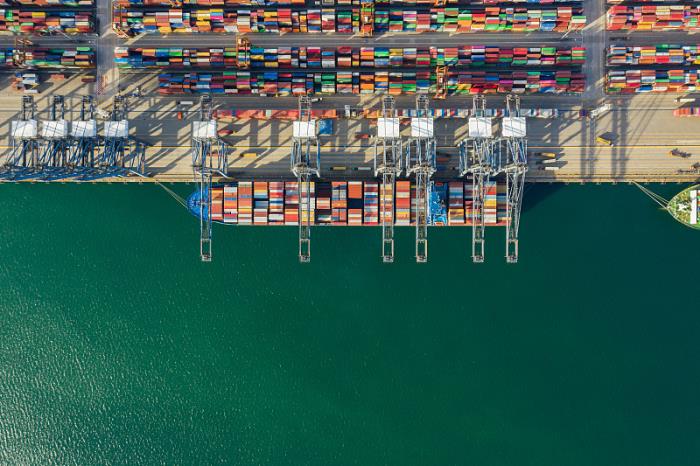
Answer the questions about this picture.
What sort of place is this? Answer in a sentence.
This looks like a port.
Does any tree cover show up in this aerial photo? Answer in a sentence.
No, the picture contains no tree cover.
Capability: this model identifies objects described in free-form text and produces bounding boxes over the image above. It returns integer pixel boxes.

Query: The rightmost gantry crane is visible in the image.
[485,98,527,262]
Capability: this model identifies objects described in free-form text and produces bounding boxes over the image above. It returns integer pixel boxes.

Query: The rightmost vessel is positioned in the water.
[665,184,700,231]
